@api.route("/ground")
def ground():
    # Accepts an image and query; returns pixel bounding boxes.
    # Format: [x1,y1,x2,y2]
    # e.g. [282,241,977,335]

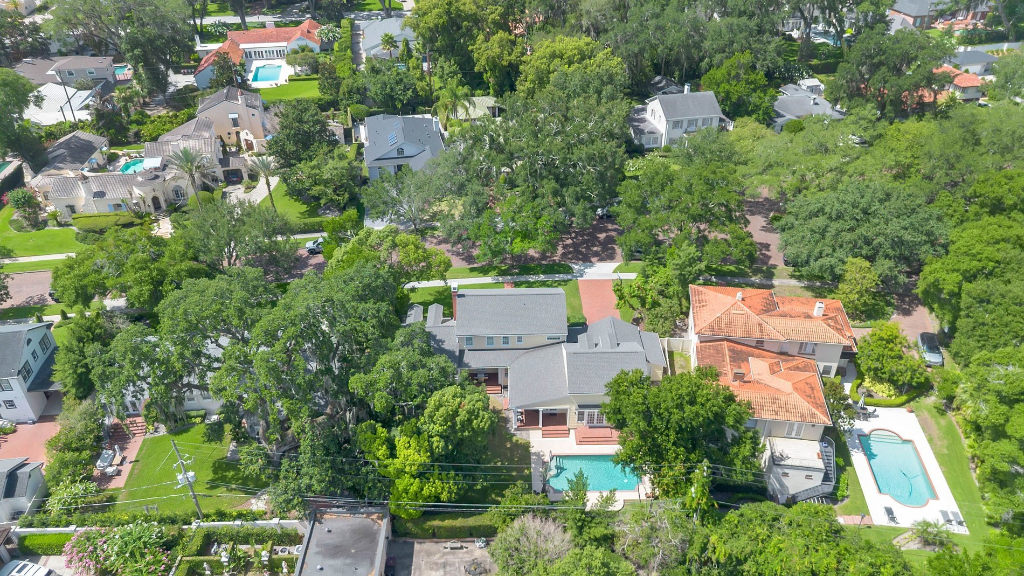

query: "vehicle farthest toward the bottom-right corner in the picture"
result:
[919,331,947,367]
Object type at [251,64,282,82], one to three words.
swimming pool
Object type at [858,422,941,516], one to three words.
swimming pool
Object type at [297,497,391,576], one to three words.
building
